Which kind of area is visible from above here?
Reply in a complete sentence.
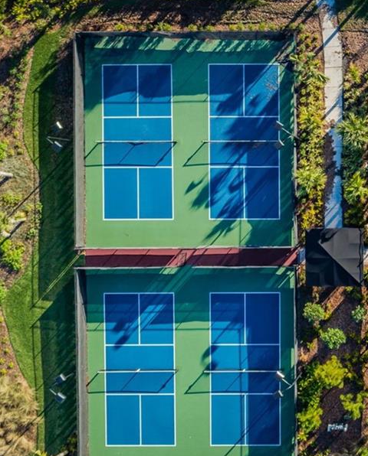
It's a sports ground.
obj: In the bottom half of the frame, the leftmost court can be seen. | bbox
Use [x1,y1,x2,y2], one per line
[86,269,193,456]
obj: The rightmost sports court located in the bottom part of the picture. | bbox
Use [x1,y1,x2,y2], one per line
[193,269,295,456]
